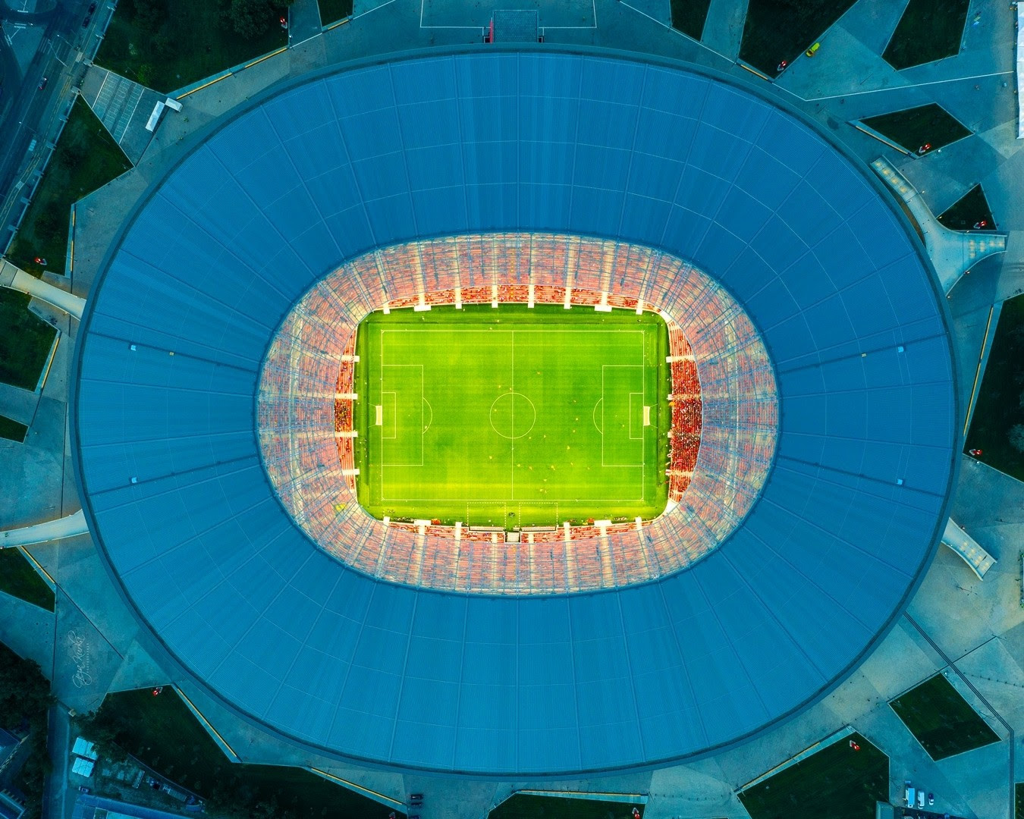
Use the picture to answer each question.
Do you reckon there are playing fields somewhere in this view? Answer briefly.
Yes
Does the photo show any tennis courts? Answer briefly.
No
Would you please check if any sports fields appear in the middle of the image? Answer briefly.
Yes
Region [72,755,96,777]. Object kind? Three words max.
shed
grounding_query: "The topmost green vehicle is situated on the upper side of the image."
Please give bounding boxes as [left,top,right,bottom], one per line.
[806,41,822,57]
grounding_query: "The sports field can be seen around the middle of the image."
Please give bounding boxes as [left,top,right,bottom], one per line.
[368,322,658,523]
